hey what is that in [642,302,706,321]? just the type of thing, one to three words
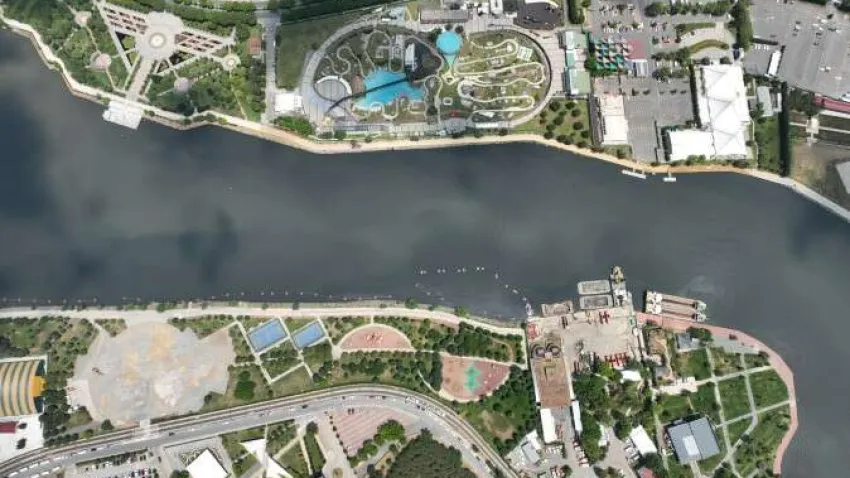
ship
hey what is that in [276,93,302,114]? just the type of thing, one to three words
building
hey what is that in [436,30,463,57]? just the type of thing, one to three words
swimming pool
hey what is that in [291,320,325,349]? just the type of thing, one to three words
sports court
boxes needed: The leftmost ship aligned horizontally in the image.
[540,300,574,317]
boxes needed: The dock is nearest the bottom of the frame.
[611,281,633,310]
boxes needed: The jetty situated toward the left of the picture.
[102,100,143,130]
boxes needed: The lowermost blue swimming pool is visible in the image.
[355,69,427,111]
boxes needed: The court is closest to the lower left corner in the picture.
[246,318,287,353]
